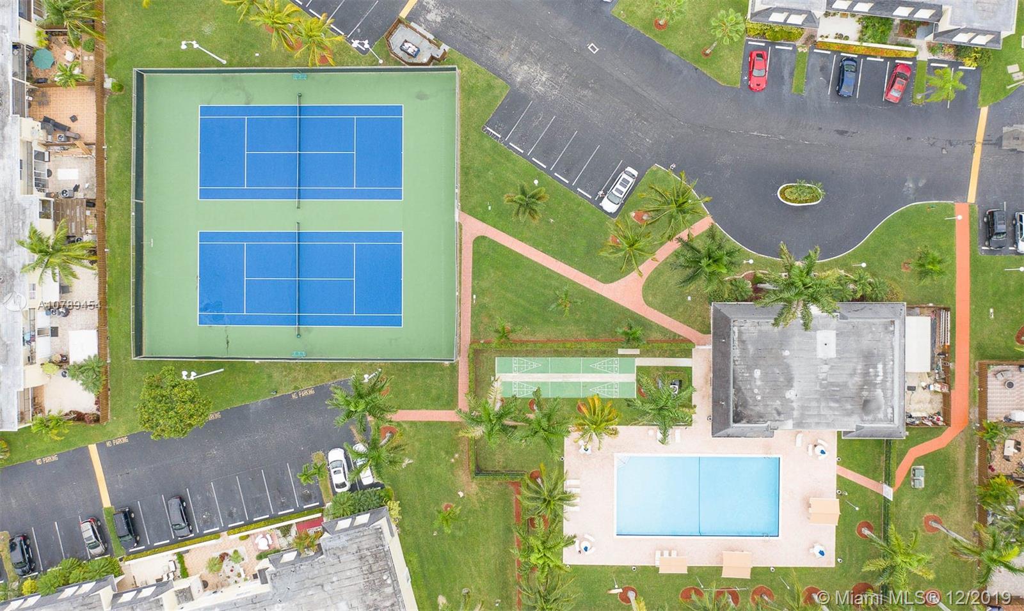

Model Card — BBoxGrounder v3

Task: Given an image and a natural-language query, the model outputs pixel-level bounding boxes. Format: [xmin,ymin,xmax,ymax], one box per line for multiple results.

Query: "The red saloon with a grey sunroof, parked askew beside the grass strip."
[885,61,911,103]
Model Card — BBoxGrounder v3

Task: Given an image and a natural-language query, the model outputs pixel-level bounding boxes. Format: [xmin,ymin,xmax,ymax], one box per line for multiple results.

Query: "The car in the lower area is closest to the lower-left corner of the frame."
[3,536,33,579]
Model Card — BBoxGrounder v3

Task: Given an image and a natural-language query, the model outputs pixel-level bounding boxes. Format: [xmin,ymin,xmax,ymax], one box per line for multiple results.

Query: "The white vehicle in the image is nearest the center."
[603,165,638,212]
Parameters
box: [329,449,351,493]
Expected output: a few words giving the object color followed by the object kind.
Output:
white car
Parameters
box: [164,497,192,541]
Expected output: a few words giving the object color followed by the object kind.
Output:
gray car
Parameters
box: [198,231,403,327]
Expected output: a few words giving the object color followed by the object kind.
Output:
blue tennis court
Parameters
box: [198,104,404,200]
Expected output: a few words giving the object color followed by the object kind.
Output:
blue tennis court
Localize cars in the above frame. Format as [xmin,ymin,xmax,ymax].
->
[329,449,351,493]
[748,50,769,91]
[108,509,139,553]
[985,209,1010,249]
[1014,211,1024,253]
[603,165,638,212]
[77,517,106,560]
[164,497,192,541]
[885,61,911,103]
[3,536,33,579]
[837,55,861,96]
